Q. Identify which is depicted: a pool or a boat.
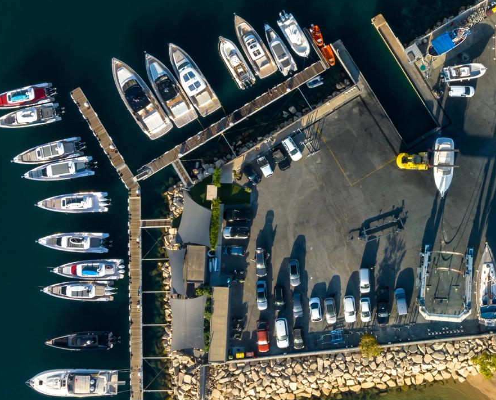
boat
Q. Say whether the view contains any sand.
Yes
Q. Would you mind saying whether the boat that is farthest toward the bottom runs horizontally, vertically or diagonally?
horizontally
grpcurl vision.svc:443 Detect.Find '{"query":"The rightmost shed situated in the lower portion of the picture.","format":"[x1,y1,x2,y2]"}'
[209,284,233,363]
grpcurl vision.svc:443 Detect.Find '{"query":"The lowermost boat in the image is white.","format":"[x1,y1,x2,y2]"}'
[26,371,125,397]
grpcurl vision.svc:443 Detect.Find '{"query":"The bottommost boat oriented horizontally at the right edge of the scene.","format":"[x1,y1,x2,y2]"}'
[439,63,487,82]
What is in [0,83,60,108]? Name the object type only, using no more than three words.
boat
